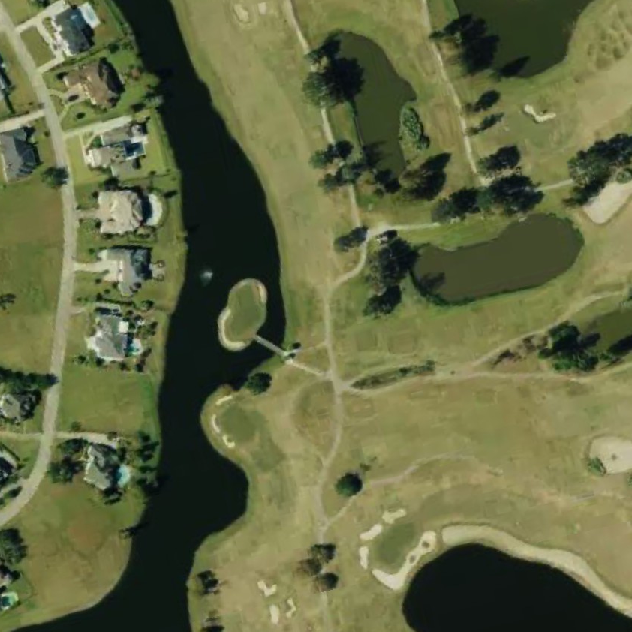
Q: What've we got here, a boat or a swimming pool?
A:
swimming pool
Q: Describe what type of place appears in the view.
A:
golf course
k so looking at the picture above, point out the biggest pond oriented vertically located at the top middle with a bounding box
[337,32,416,179]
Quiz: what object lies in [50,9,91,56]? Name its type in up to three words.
house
